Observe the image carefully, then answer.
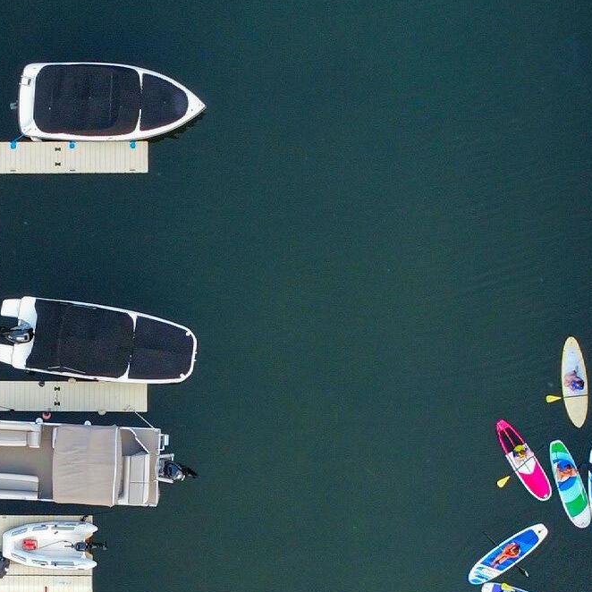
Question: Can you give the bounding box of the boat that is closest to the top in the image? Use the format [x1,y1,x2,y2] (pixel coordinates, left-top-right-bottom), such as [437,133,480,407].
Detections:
[9,62,205,143]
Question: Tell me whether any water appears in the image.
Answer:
Yes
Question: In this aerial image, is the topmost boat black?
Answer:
Yes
